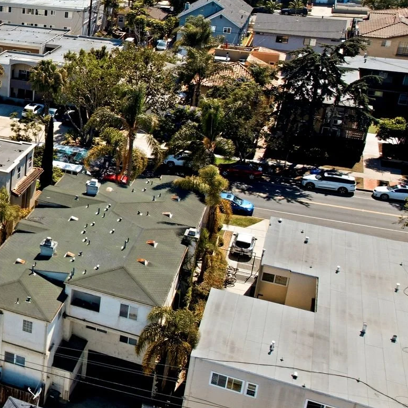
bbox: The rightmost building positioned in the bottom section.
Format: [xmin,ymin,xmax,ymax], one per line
[184,216,408,408]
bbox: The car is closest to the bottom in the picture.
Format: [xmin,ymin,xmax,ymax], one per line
[230,228,257,254]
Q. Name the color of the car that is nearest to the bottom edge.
white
